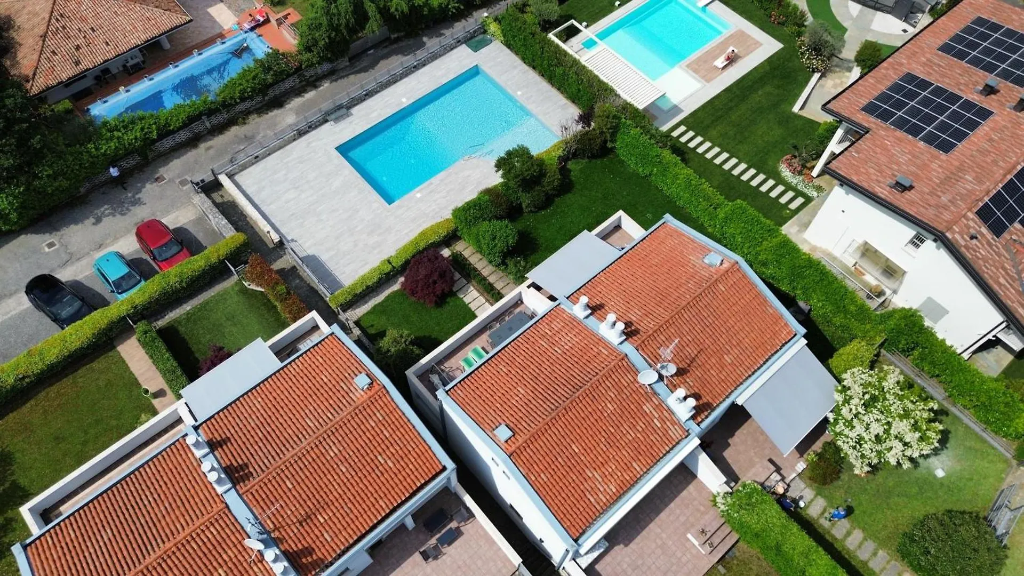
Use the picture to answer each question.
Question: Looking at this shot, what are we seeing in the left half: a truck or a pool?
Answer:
pool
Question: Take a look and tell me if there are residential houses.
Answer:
Yes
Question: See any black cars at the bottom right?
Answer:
No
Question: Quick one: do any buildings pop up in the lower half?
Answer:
Yes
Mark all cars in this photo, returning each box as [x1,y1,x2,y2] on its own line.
[97,253,151,301]
[29,274,99,334]
[137,219,193,276]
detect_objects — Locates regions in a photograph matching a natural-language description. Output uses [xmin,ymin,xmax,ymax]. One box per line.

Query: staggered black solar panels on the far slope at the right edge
[976,167,1024,261]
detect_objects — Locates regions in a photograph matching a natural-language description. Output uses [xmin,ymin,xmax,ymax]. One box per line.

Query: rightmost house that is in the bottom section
[406,210,805,563]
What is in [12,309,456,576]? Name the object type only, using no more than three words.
house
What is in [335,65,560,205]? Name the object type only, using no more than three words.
swimming pool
